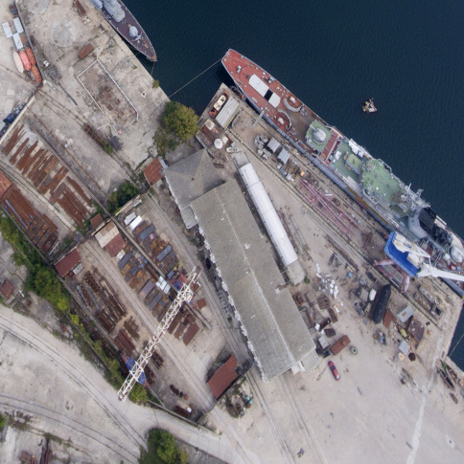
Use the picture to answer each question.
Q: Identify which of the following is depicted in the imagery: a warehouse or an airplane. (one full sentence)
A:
There is a warehouse in the scene.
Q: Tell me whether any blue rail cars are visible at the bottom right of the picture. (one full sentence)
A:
No, no blue rail car is visible at the bottom right of the picture.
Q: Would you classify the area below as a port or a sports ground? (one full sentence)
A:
This image shows a port.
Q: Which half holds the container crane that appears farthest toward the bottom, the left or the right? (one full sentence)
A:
It is on the left.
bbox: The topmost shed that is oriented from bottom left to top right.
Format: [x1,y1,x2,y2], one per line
[213,97,239,129]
